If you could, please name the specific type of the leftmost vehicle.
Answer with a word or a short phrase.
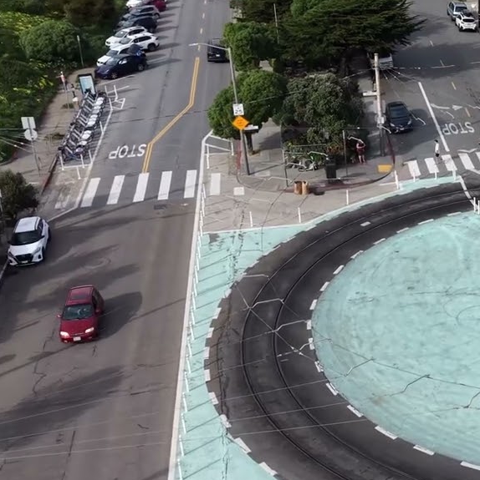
car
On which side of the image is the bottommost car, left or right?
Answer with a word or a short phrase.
left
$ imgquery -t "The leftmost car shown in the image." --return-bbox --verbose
[6,211,61,259]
